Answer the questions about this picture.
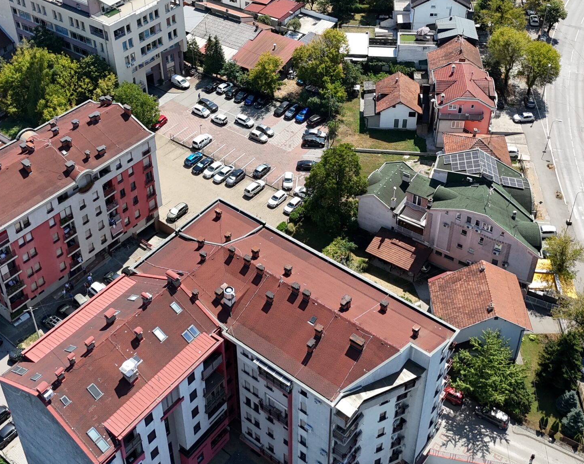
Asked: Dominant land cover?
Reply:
buildings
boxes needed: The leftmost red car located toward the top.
[152,115,169,130]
